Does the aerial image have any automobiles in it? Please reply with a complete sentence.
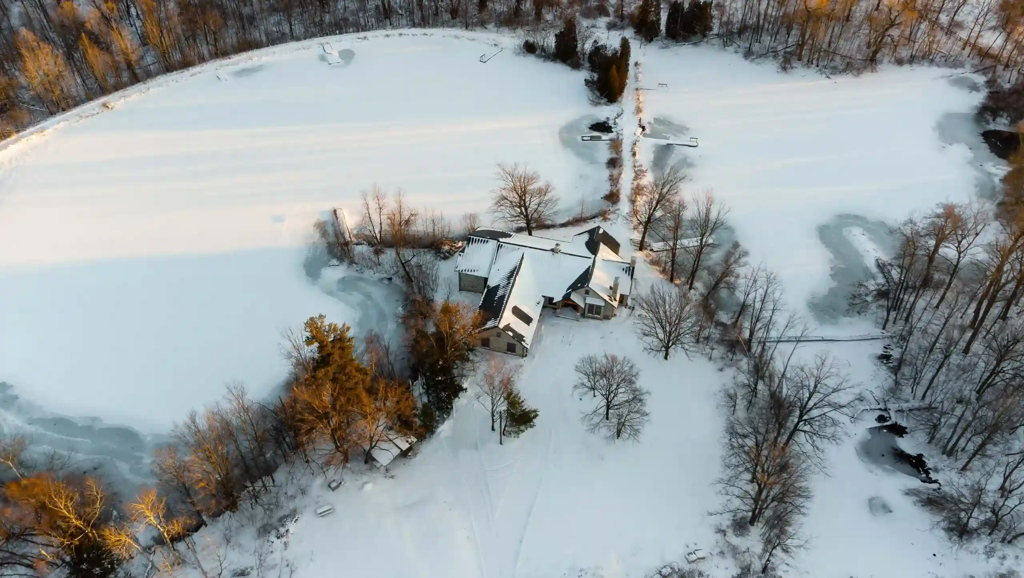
No, this view has no automobile in it.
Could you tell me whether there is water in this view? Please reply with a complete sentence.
Yes, the picture does contain water.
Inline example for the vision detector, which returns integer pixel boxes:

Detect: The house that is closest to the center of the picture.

[451,226,636,355]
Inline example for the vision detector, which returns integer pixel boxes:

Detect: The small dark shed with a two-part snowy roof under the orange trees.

[366,425,417,479]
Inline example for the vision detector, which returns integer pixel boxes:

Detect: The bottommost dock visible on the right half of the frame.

[650,239,716,251]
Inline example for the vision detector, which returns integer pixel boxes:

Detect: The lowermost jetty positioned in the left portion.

[332,209,350,244]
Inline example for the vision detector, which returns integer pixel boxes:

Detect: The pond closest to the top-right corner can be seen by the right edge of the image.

[641,47,1024,341]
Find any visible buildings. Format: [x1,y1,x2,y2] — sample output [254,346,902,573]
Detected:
[451,226,636,355]
[366,425,417,479]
